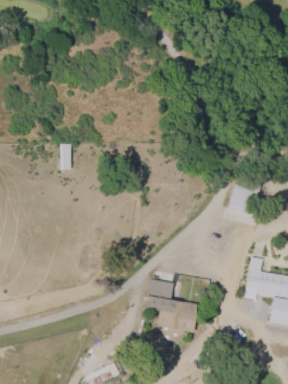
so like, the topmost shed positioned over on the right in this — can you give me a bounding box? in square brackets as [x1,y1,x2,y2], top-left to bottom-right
[230,184,260,214]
